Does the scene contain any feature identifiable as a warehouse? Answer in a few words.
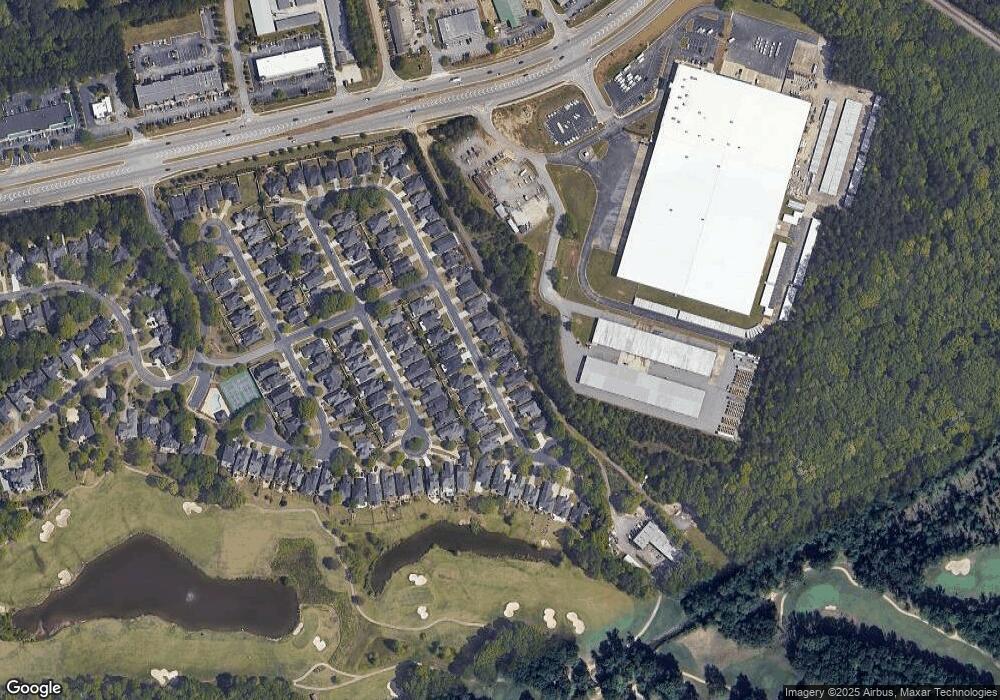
Yes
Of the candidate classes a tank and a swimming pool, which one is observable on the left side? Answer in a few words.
swimming pool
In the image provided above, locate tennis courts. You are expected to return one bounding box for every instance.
[233,371,261,404]
[221,378,248,411]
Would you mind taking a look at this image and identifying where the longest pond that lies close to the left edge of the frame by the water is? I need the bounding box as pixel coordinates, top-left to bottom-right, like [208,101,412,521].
[12,533,299,639]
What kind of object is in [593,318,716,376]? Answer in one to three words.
shed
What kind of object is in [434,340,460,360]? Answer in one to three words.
house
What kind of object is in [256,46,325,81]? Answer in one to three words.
building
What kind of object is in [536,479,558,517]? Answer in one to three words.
house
